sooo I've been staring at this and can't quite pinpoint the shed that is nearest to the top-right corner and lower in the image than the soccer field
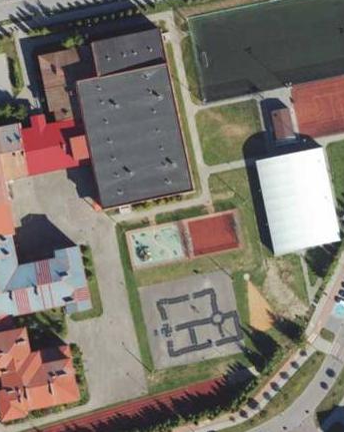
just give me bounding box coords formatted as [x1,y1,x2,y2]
[271,107,295,141]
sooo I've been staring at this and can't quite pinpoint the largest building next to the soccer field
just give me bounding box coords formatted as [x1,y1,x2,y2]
[78,64,192,216]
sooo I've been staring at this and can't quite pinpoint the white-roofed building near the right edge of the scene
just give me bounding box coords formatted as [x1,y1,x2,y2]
[258,148,341,256]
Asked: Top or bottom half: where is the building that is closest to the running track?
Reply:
bottom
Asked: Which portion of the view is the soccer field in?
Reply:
top right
